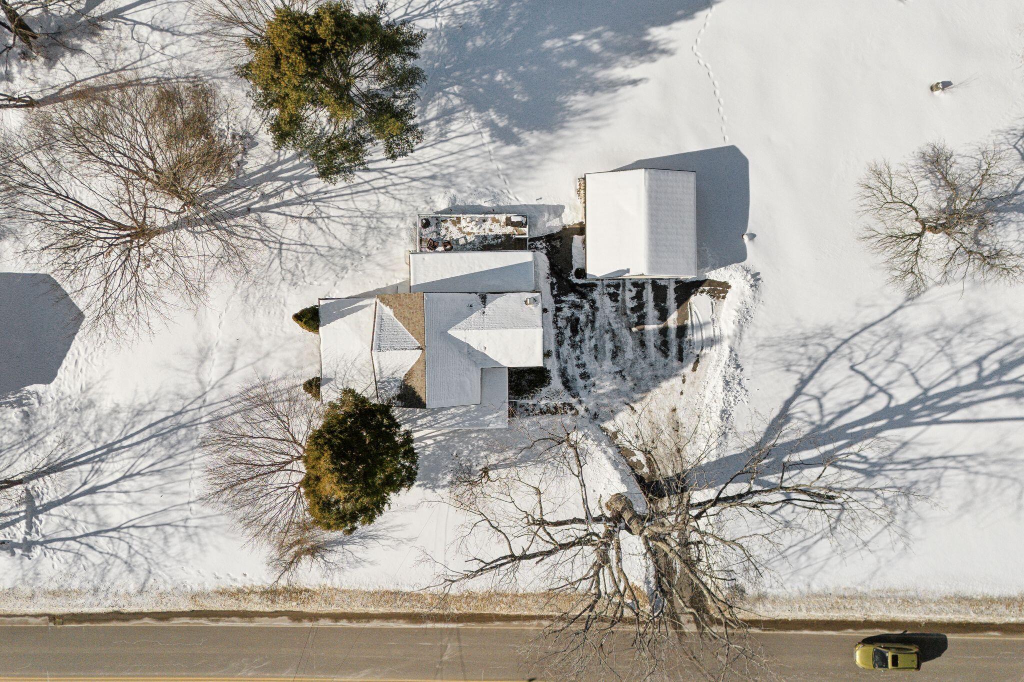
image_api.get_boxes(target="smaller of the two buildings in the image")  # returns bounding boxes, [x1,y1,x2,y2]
[583,167,697,280]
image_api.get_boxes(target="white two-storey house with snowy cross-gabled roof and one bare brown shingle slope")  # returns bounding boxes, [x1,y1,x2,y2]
[320,251,547,431]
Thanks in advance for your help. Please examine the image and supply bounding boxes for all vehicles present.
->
[852,639,919,674]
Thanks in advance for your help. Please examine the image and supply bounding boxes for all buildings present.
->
[583,167,697,280]
[320,251,547,431]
